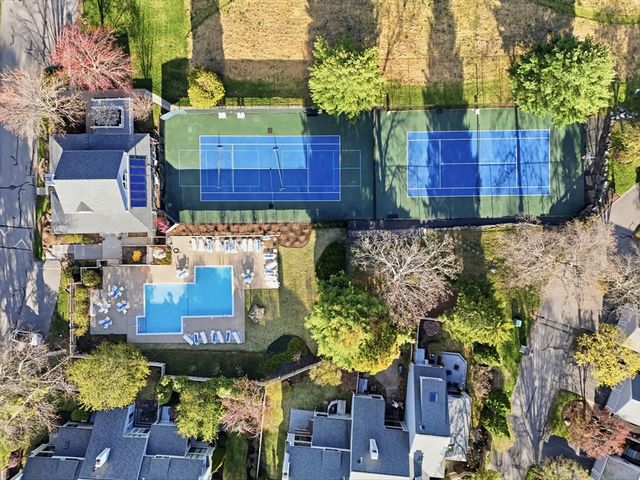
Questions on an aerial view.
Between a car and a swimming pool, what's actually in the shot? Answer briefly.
swimming pool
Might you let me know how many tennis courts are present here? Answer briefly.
2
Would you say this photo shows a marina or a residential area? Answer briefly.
residential area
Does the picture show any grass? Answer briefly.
Yes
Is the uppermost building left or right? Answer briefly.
left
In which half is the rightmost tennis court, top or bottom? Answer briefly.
top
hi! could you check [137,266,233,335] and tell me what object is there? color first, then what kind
blue swimming pool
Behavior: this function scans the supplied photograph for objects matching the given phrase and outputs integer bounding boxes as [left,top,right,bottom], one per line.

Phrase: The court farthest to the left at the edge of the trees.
[164,108,375,221]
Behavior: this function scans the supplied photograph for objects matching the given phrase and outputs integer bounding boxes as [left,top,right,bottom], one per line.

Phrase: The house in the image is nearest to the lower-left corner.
[21,399,211,480]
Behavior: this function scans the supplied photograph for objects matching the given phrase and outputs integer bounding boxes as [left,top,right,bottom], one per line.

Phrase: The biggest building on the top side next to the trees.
[45,132,158,235]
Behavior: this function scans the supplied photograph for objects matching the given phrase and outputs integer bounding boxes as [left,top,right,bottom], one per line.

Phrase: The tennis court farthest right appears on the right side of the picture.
[376,108,588,221]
